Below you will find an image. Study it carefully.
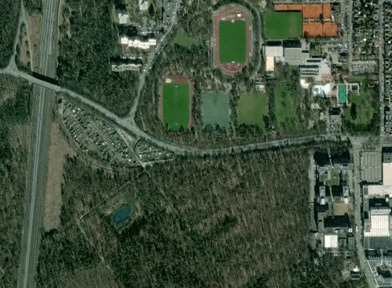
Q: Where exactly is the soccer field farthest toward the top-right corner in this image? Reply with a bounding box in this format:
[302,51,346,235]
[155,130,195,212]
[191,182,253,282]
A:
[265,12,301,38]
